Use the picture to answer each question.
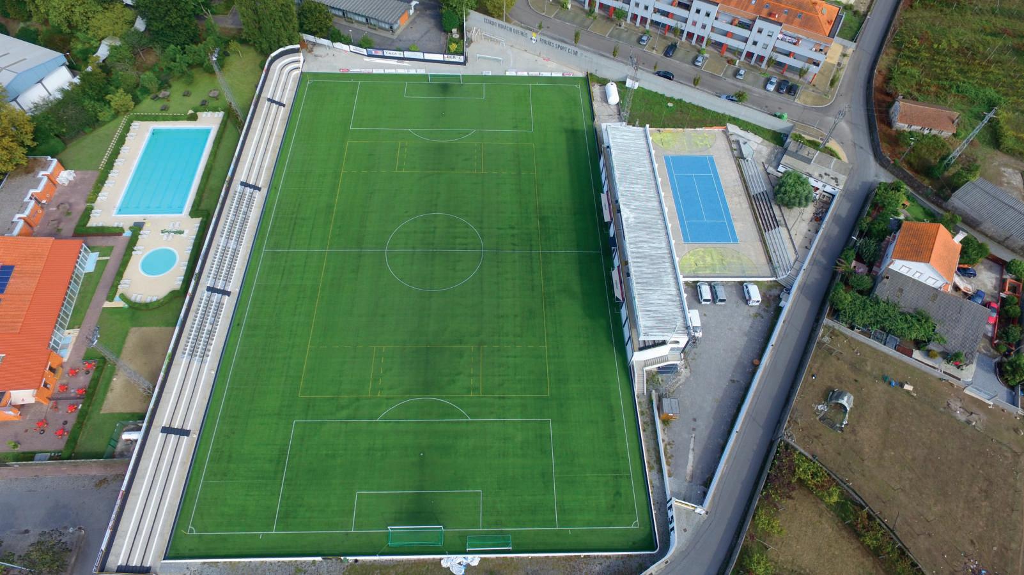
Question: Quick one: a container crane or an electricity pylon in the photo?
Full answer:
Of the two, only an electricity pylon appears.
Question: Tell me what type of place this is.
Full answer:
What you see here is a sports ground.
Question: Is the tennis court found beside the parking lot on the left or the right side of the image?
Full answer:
The tennis court found beside the parking lot appears in the right half of the scene.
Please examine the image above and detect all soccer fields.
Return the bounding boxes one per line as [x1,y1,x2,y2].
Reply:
[166,72,654,557]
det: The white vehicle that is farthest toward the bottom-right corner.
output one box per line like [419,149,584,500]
[744,282,763,304]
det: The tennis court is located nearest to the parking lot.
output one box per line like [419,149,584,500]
[645,128,775,278]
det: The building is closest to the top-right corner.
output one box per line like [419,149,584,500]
[886,90,966,140]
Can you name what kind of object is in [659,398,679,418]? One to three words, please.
shed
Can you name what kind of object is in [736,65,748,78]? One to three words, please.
vehicle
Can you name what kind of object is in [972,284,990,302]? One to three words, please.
car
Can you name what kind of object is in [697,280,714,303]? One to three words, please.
vehicle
